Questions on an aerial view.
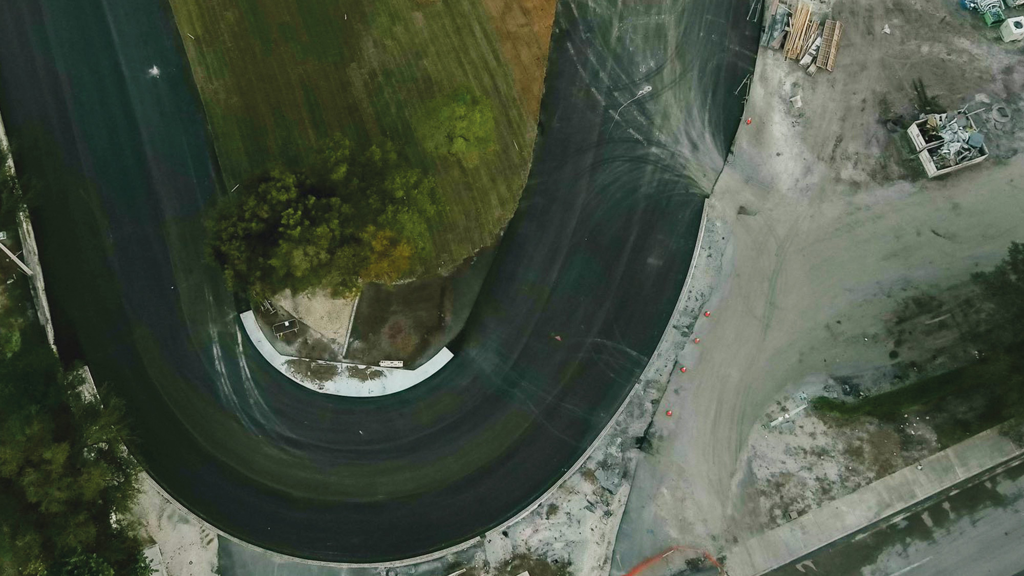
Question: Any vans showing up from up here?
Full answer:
No, no van is visible in the view.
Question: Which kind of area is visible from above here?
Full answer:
It's a sports ground.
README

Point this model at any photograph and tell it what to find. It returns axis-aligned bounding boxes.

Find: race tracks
[0,0,763,562]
